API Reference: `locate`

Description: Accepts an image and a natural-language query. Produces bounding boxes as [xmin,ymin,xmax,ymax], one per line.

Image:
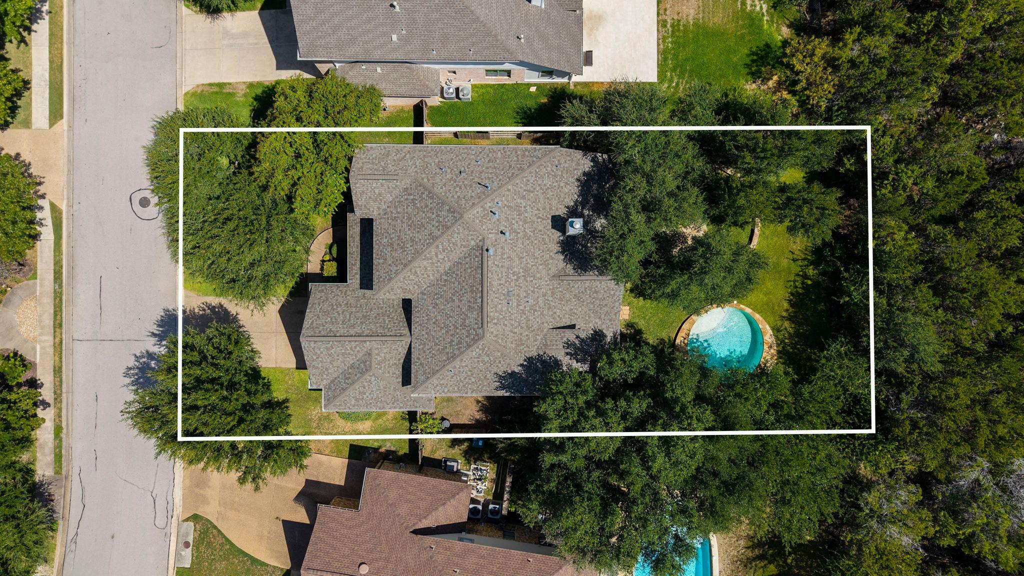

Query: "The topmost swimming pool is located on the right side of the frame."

[675,301,776,401]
